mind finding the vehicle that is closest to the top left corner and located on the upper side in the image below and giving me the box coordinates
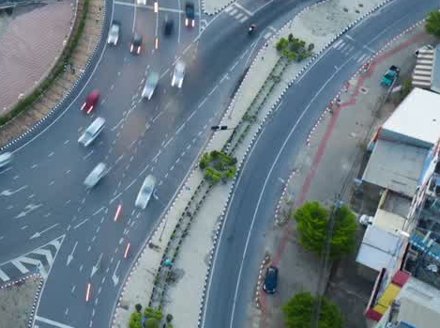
[107,22,121,46]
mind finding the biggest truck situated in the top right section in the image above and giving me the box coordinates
[379,63,400,89]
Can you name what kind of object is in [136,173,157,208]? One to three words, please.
vehicle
